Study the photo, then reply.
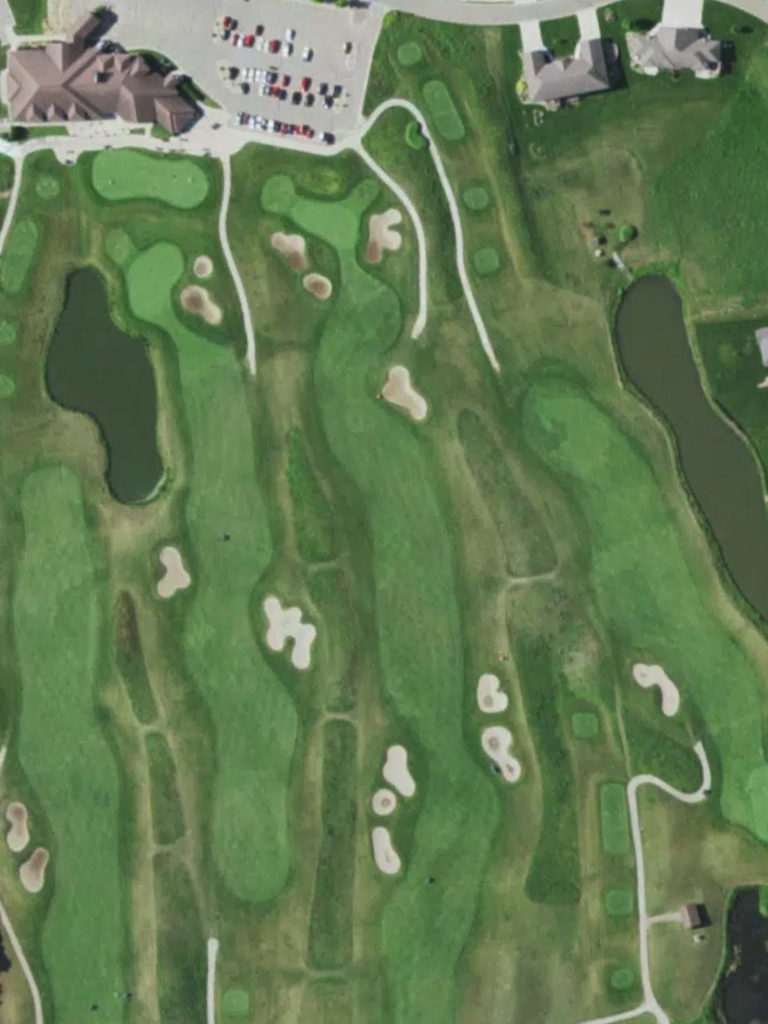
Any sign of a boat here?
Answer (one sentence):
No, the photo shows no boat.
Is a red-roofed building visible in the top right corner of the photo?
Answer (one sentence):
No, I can find no red-roofed building in the top right corner of the photo.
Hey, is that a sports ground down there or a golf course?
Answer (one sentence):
It's a golf course.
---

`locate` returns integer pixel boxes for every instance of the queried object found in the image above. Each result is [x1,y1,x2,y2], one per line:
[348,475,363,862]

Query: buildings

[756,328,768,367]
[630,28,723,70]
[523,38,611,100]
[7,11,197,135]
[680,904,701,930]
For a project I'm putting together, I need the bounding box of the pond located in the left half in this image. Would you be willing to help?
[46,267,165,504]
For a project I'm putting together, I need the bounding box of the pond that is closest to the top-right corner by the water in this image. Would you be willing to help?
[616,274,768,625]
